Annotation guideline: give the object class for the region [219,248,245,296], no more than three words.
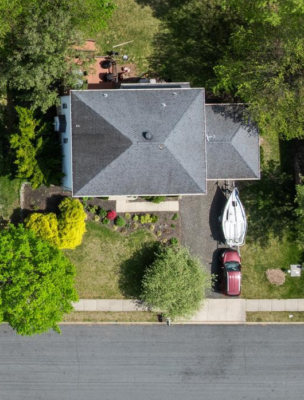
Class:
car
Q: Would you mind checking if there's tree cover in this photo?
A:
Yes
